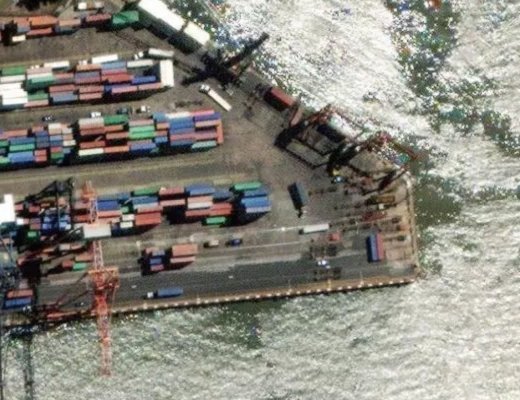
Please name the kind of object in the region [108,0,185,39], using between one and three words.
shed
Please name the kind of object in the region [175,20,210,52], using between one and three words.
shed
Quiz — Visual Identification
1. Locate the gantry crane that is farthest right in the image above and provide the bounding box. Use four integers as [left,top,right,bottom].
[352,112,427,178]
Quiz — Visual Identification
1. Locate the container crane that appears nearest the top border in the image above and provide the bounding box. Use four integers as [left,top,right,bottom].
[200,29,273,95]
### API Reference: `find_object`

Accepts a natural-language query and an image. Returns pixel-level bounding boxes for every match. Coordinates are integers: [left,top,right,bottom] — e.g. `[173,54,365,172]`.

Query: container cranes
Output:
[0,237,12,400]
[35,179,75,253]
[352,112,427,178]
[301,88,380,156]
[200,29,273,95]
[45,181,116,376]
